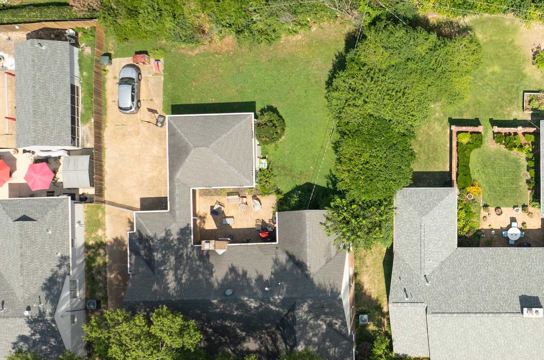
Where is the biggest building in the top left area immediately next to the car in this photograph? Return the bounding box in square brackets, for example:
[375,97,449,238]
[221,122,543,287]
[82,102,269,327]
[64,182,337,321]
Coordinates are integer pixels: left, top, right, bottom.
[14,40,93,151]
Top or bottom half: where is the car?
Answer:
top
